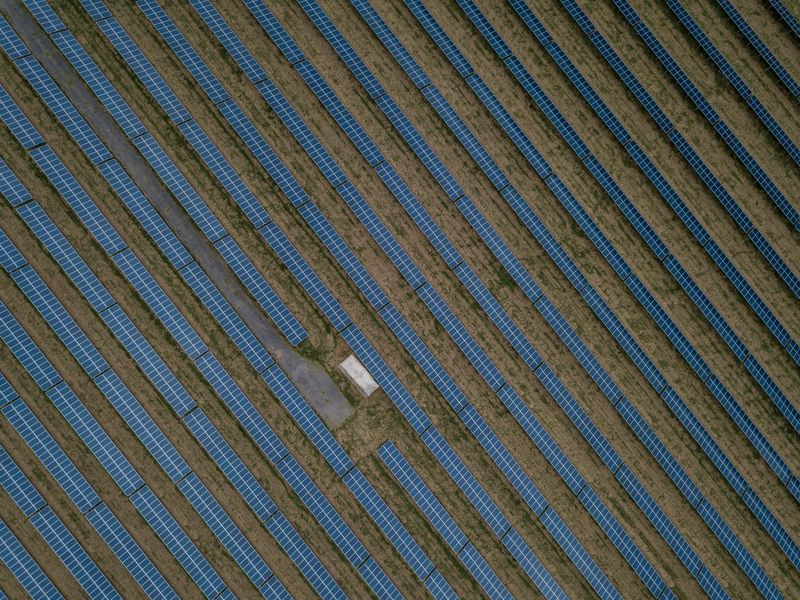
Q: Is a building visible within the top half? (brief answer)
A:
No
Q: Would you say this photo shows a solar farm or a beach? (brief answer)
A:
solar farm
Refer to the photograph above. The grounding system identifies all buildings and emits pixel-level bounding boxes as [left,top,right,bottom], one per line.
[337,353,378,399]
